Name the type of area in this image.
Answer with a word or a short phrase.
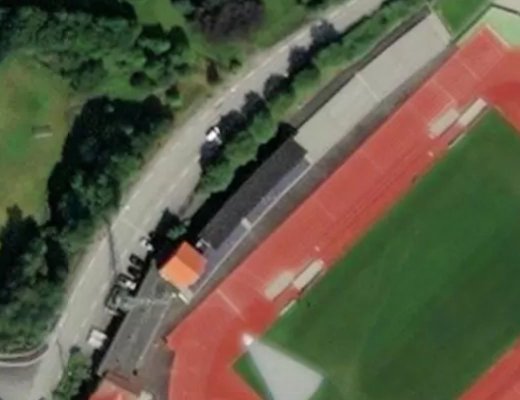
sports ground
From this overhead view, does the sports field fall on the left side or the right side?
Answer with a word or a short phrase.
right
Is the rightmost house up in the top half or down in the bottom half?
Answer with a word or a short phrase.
bottom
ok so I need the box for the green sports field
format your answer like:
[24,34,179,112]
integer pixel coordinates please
[233,107,520,400]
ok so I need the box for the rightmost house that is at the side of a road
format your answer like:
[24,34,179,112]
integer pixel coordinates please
[158,242,208,290]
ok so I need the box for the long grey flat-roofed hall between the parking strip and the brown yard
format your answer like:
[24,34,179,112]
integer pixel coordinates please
[96,263,172,382]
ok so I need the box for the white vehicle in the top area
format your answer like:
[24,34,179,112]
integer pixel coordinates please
[206,126,220,141]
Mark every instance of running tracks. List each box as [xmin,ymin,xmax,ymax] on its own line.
[168,26,520,400]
